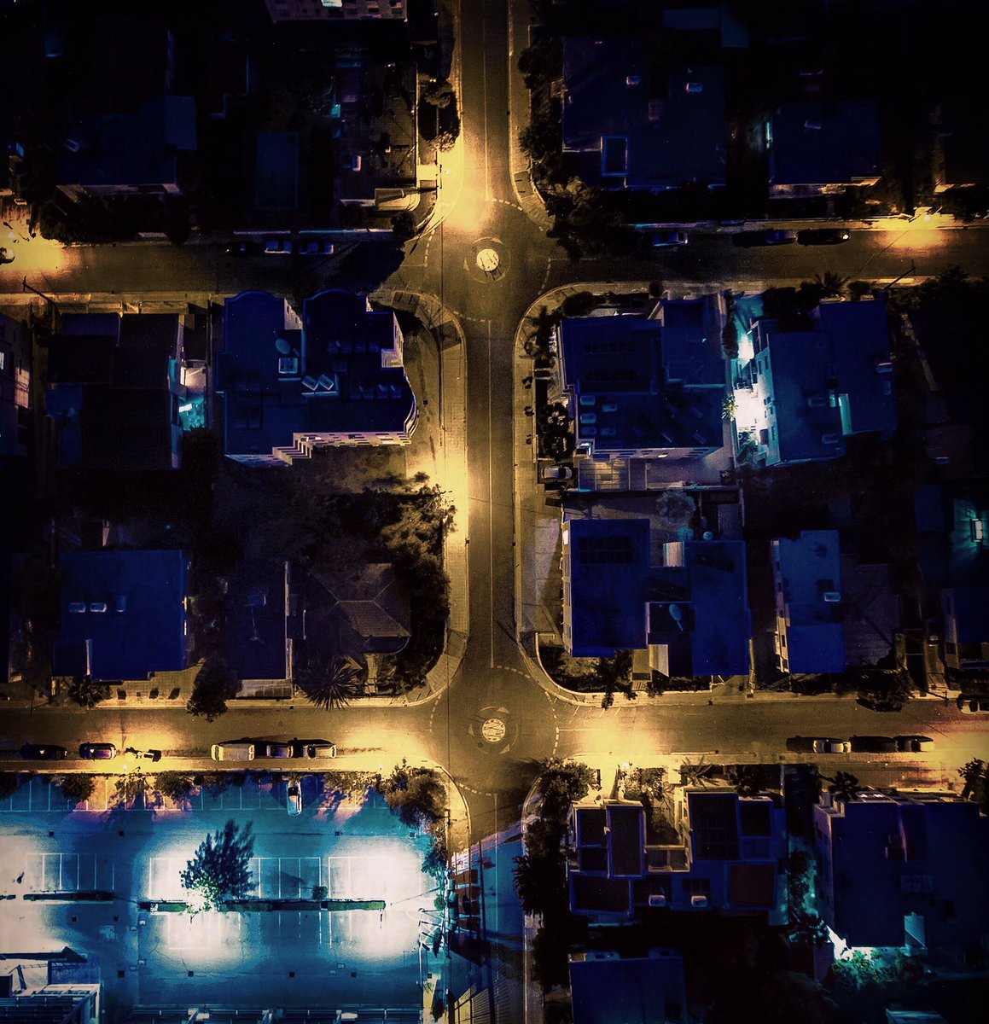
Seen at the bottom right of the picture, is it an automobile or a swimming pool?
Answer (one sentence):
There is an automobile at the bottom right of the picture.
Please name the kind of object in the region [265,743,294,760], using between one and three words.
car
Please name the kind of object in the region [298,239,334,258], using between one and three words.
car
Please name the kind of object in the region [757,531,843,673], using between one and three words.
house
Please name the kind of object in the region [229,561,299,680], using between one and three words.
house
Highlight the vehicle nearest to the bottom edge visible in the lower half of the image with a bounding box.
[285,780,303,816]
